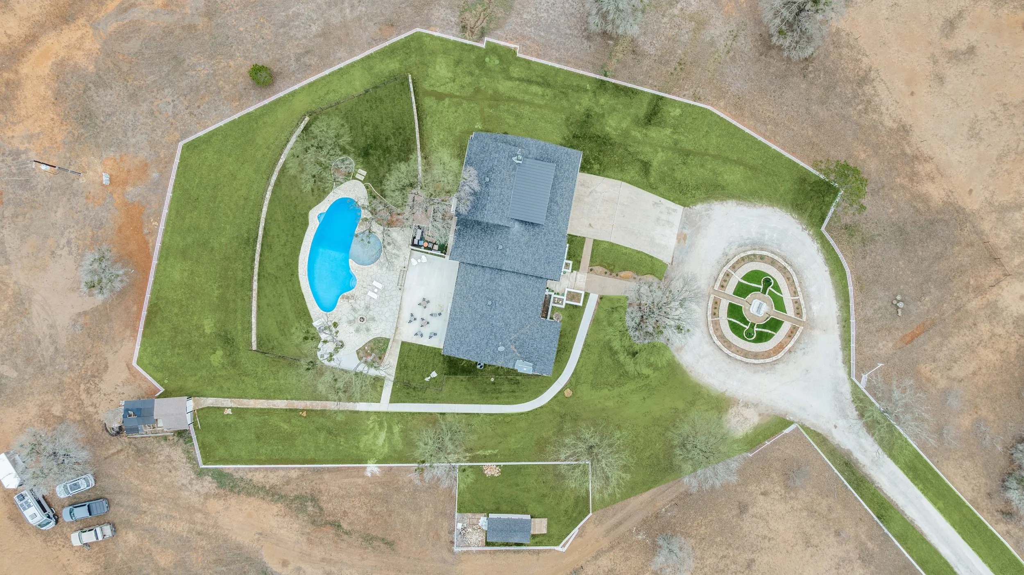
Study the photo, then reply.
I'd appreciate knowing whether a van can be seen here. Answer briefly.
Yes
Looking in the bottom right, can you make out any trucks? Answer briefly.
No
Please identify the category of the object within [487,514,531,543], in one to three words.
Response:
shed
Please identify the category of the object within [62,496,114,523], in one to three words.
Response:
truck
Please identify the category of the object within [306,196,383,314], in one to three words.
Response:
swimming pool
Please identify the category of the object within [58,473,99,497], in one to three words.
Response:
car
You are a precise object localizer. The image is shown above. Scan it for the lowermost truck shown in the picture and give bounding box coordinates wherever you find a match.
[71,521,121,550]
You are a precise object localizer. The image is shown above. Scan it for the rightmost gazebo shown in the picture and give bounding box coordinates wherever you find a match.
[750,299,771,317]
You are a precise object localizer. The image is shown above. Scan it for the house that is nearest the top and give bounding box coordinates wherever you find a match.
[441,131,583,376]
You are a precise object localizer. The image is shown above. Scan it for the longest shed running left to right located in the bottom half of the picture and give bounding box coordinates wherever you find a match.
[117,396,194,436]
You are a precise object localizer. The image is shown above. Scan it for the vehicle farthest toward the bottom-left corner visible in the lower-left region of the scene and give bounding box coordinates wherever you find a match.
[12,483,61,532]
